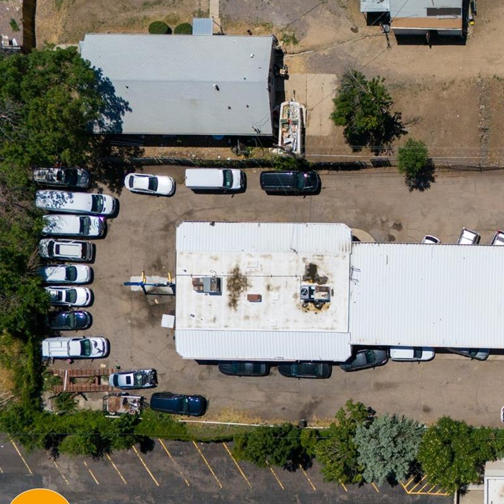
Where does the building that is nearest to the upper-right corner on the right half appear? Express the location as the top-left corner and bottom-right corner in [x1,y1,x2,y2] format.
[389,0,463,42]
